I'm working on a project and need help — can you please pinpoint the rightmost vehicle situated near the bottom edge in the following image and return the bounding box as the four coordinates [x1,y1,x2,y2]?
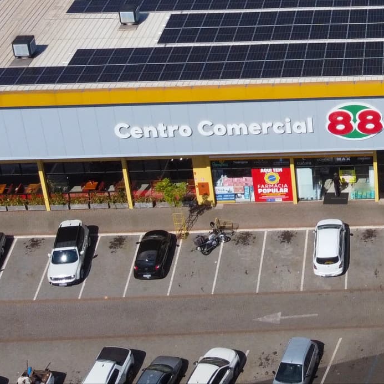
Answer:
[268,335,322,384]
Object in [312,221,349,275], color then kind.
white car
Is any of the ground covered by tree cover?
No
